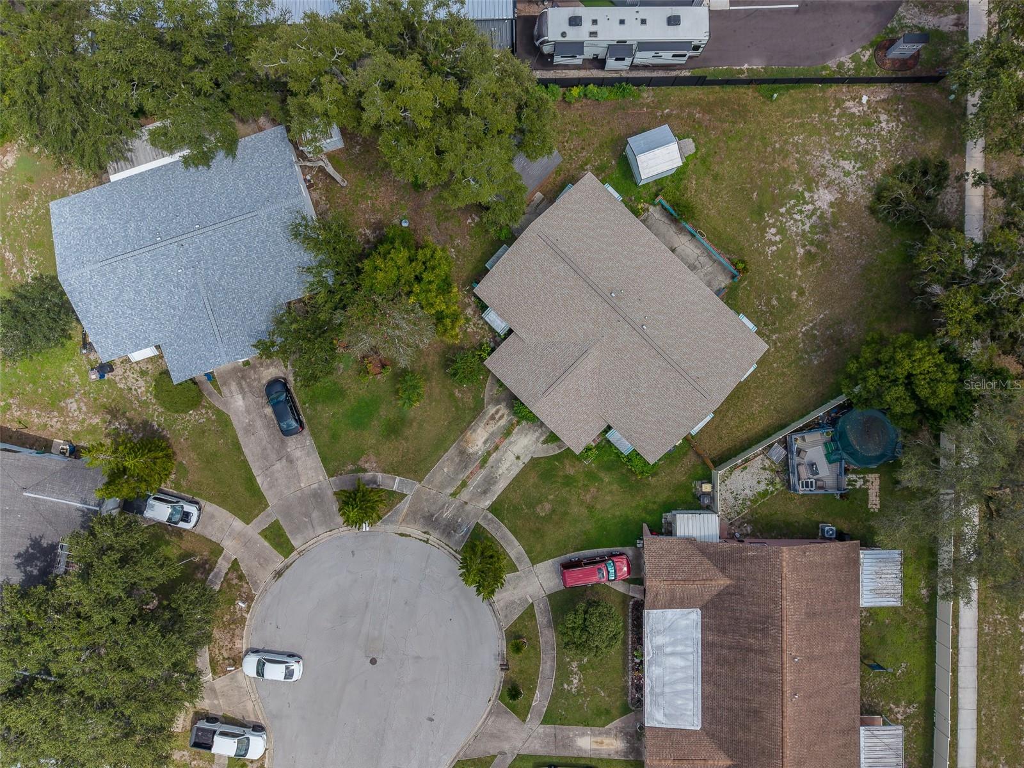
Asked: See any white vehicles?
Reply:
Yes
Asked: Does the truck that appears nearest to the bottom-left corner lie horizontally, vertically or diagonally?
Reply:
horizontally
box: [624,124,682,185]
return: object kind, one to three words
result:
shed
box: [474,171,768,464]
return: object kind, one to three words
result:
house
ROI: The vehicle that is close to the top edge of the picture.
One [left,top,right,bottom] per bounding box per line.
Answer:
[533,0,710,74]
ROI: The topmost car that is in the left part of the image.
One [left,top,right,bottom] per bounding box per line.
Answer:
[265,376,306,438]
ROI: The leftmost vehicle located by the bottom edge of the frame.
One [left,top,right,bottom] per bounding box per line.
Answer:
[189,717,270,761]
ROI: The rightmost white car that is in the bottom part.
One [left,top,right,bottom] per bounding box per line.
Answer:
[243,648,306,682]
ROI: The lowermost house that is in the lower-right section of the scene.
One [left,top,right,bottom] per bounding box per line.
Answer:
[642,532,860,768]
